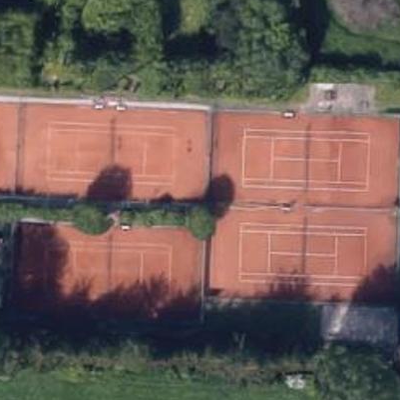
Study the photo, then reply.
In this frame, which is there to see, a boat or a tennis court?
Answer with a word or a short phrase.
tennis court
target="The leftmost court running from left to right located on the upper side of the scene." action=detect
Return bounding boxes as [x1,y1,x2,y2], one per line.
[17,103,213,202]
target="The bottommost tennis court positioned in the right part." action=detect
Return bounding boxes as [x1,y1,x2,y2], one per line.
[208,205,399,304]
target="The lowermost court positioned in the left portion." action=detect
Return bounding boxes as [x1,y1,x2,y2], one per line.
[14,222,206,324]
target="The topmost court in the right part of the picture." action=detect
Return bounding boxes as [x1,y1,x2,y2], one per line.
[211,110,400,210]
